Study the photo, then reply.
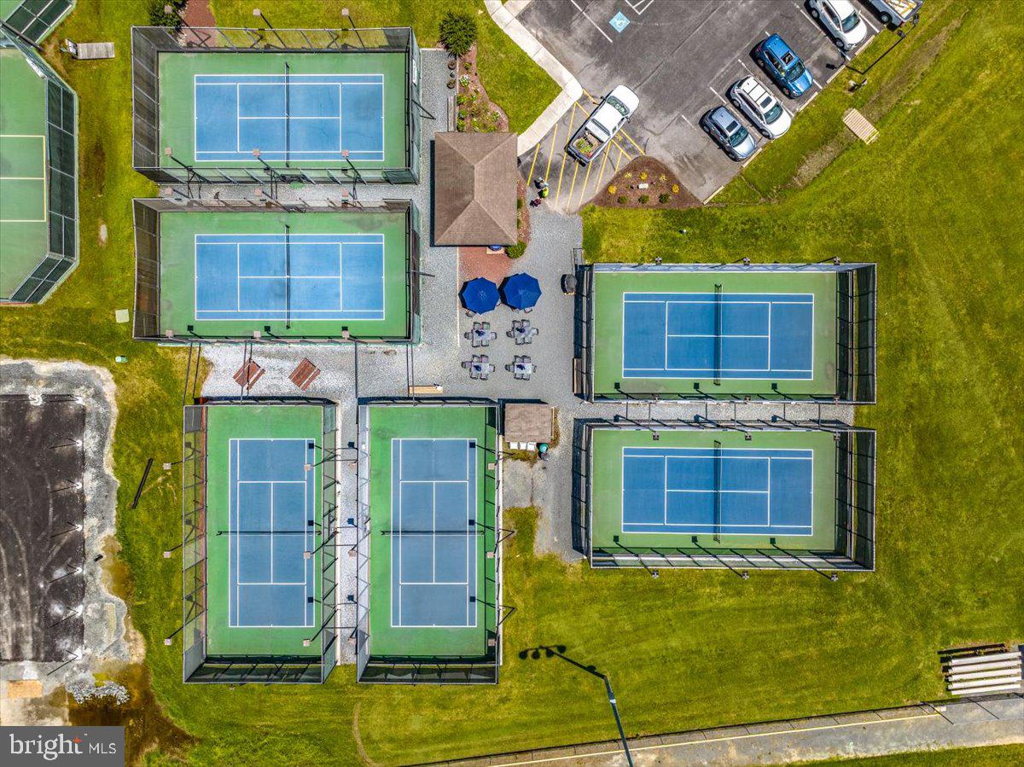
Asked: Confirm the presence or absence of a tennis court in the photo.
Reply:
Yes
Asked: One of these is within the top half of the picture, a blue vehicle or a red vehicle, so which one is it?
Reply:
blue vehicle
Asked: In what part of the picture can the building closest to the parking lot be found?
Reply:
top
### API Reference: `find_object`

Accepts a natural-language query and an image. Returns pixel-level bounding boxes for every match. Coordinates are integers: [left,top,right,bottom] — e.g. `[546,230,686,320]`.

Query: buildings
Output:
[434,132,518,248]
[505,404,552,442]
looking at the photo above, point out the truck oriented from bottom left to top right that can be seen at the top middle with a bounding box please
[568,85,639,164]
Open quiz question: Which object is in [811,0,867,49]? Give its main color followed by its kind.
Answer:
white car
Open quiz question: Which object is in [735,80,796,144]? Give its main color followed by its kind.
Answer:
white car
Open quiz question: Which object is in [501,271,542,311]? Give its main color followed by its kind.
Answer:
blue umbrella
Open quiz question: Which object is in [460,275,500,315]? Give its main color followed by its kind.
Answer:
blue umbrella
